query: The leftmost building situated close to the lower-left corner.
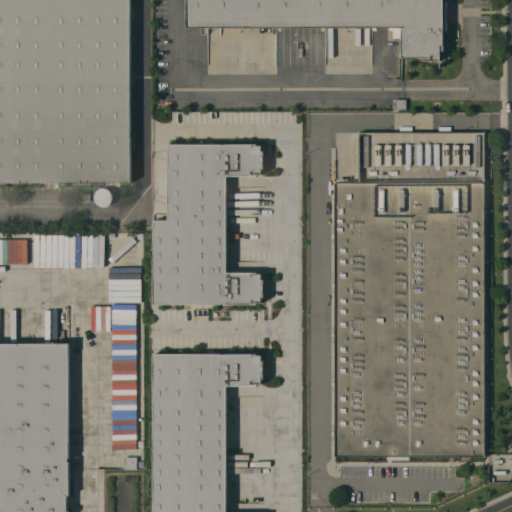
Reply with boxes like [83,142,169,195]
[0,342,71,512]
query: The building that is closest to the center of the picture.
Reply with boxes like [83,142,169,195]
[152,144,262,304]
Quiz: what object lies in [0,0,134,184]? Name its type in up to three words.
warehouse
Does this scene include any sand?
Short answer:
No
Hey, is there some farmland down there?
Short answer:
No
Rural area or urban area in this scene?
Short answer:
urban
